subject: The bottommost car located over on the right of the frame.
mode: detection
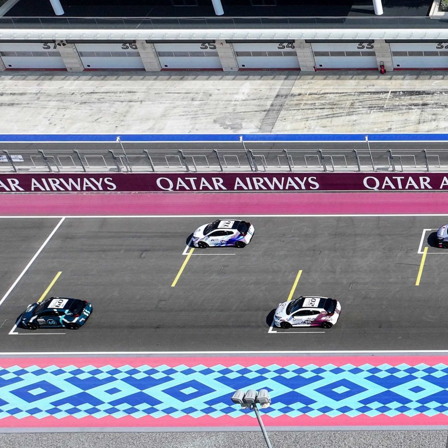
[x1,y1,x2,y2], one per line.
[272,296,341,330]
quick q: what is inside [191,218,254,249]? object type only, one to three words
car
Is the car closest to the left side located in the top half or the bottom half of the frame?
bottom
